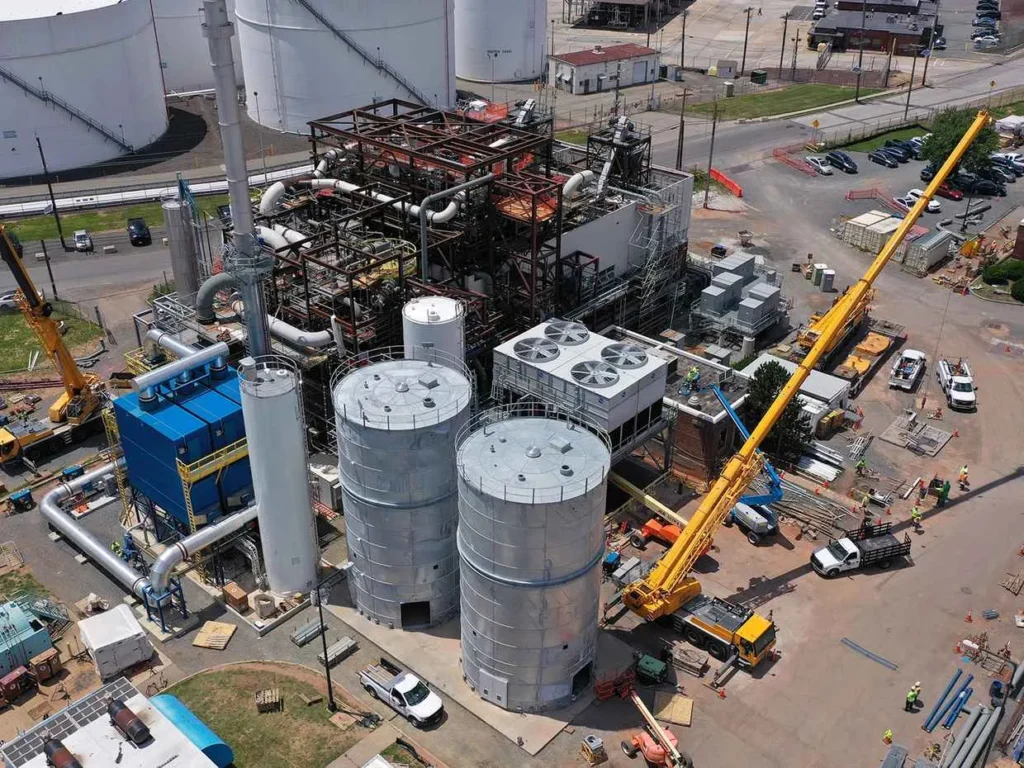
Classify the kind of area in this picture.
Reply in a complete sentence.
This image shows an industrial area.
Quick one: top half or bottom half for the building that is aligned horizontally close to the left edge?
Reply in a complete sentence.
You can find the building that is aligned horizontally close to the left edge in the bottom half.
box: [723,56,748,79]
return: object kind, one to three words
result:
shed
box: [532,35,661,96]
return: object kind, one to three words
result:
building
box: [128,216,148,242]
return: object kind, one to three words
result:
car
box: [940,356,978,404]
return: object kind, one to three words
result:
truck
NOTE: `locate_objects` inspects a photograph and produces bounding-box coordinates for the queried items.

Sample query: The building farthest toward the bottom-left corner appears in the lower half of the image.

[0,676,208,768]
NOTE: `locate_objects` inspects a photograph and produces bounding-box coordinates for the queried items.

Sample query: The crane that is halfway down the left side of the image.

[0,206,136,477]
